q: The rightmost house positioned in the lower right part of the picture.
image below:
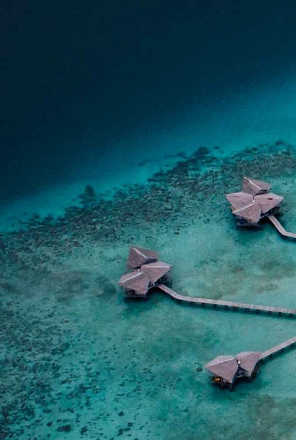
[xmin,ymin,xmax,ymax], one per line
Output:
[206,351,266,396]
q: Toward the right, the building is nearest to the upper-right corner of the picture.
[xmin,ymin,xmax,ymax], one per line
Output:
[226,178,287,235]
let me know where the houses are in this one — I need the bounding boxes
[206,351,266,396]
[226,178,287,235]
[118,246,179,308]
